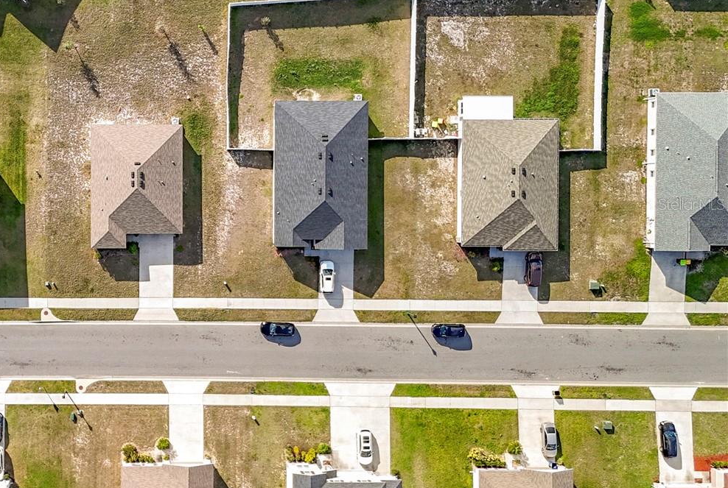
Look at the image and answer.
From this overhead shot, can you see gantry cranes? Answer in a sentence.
No, the frame has no gantry crane in it.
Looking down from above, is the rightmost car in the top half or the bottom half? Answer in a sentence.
You can find the rightmost car in the bottom half.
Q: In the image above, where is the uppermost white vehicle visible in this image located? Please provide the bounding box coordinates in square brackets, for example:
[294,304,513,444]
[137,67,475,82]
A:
[319,257,336,291]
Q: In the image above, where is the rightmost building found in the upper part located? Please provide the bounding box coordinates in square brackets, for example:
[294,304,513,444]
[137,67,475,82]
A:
[645,92,728,251]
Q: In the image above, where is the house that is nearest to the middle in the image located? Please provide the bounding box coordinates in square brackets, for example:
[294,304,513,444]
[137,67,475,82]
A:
[273,100,369,250]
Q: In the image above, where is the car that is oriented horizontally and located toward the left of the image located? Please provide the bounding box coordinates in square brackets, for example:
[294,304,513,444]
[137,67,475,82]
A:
[259,320,294,337]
